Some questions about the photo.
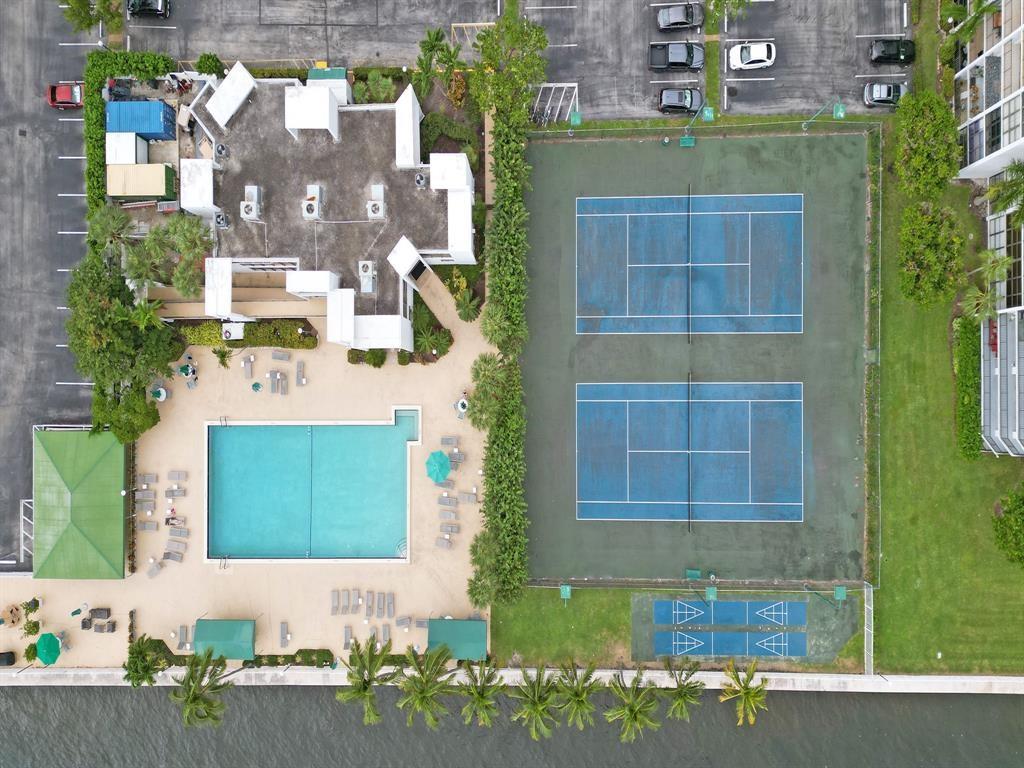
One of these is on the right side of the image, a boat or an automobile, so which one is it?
automobile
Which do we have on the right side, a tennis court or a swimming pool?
tennis court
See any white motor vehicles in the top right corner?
Yes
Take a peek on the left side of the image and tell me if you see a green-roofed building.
Yes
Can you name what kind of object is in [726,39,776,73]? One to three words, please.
car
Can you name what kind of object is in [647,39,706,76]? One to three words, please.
vehicle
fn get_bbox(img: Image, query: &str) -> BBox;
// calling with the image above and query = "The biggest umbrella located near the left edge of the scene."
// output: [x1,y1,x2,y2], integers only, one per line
[41,630,69,662]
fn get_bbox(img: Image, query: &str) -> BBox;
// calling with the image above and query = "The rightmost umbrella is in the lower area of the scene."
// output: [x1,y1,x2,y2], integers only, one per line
[427,449,451,482]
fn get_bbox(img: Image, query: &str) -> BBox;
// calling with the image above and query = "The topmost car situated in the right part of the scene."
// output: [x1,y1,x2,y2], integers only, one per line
[655,1,705,34]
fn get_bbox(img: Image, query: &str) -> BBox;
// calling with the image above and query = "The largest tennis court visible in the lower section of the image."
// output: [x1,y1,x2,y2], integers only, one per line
[529,358,866,581]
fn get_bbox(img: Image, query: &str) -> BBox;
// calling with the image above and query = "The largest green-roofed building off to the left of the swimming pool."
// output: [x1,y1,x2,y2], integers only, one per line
[33,422,137,579]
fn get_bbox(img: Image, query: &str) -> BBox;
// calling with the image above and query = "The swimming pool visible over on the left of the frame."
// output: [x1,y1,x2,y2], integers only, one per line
[206,406,421,563]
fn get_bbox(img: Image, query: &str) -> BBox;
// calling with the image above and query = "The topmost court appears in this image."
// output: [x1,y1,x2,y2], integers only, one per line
[529,134,866,358]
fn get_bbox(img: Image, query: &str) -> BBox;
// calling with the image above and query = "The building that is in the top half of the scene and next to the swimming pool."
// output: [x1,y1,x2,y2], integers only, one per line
[181,62,475,351]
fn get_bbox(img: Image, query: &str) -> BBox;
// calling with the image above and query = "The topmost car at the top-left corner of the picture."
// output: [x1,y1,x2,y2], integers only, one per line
[125,0,175,20]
